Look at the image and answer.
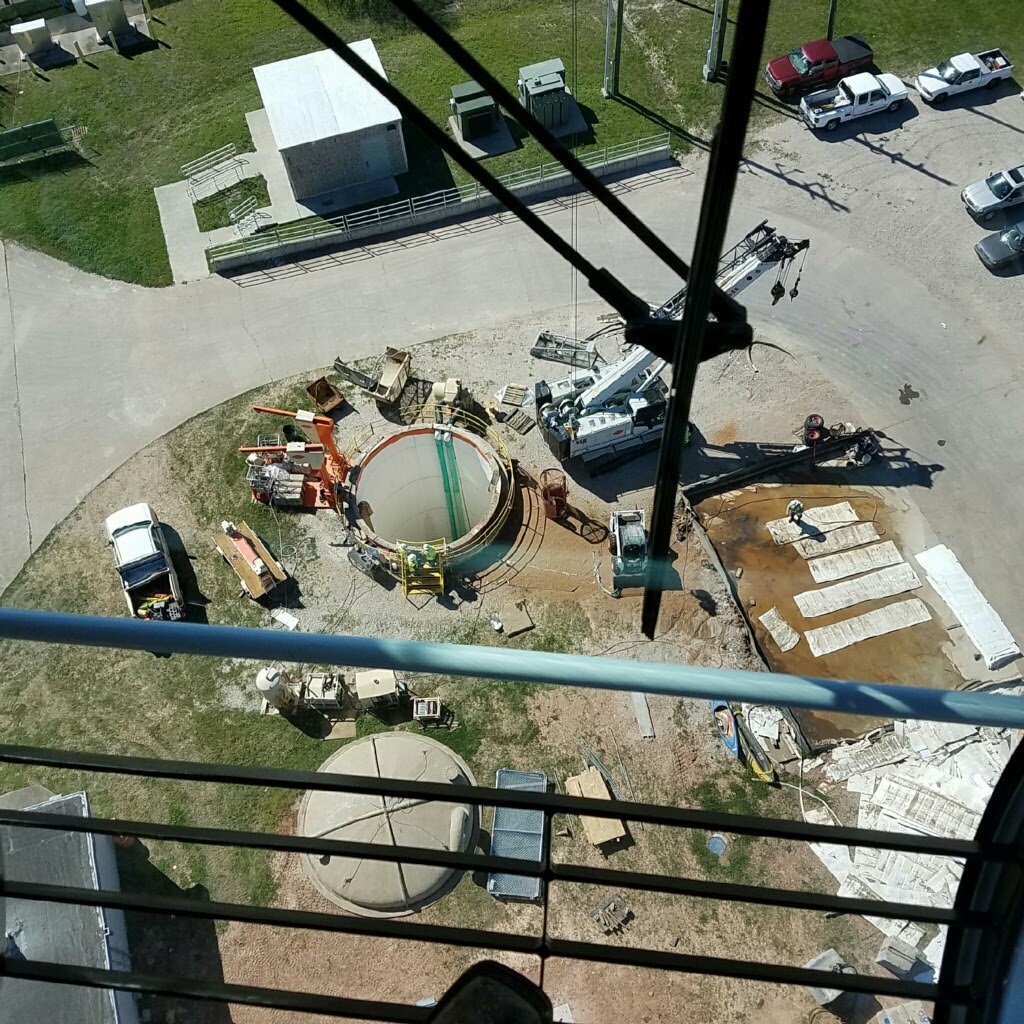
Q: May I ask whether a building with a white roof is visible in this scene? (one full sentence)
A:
Yes, there is a building with a white roof in the image.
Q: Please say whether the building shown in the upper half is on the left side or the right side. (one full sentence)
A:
You can find the building shown in the upper half on the left side of the picture.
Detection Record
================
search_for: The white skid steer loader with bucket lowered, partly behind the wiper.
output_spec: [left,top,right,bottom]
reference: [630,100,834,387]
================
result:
[608,507,652,593]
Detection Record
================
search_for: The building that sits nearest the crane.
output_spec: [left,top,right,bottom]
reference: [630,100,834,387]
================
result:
[251,41,407,200]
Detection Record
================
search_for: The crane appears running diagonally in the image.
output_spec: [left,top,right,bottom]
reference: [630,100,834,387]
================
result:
[530,222,806,477]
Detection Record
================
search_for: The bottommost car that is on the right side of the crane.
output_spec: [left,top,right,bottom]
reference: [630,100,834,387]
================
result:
[976,221,1024,274]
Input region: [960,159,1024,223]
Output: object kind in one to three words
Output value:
car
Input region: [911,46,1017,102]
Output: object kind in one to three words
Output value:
truck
